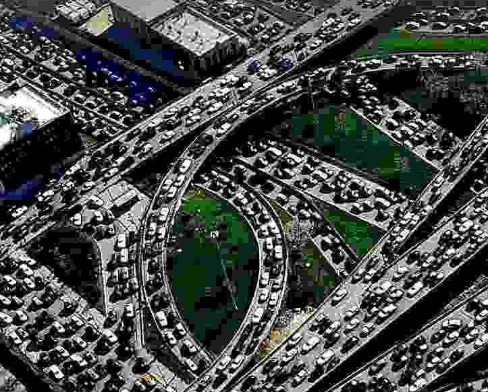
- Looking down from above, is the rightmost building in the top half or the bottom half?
top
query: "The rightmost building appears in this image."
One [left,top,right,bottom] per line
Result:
[155,5,243,83]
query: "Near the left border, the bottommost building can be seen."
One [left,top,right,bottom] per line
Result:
[0,86,82,197]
